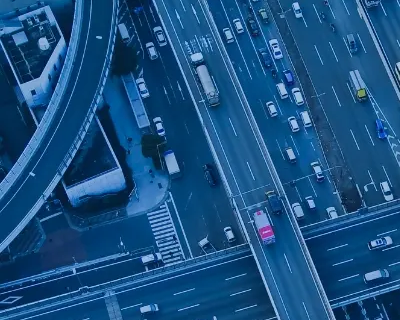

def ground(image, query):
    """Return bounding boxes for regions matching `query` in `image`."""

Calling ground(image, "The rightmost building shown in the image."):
[61,109,123,203]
